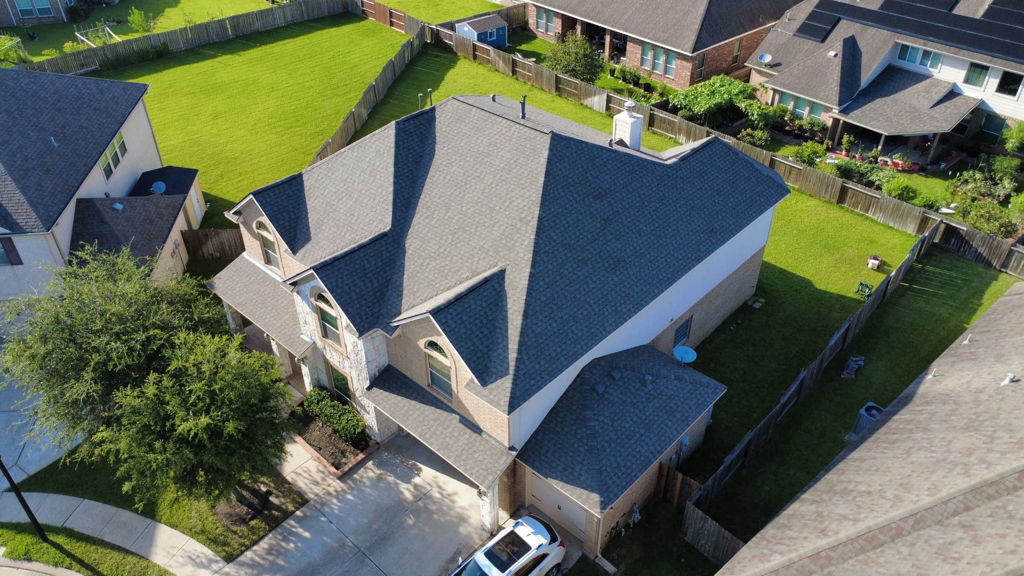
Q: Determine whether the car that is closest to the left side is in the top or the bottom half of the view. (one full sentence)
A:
The bottom half of the photo is where the car that is closest to the left side is.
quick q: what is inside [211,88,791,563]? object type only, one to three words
house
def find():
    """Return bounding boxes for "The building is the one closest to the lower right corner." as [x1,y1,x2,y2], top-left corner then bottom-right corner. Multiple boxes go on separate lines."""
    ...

[714,278,1024,576]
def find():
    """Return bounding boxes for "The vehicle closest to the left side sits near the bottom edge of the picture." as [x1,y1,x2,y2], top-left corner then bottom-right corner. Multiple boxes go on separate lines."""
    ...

[462,513,565,576]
